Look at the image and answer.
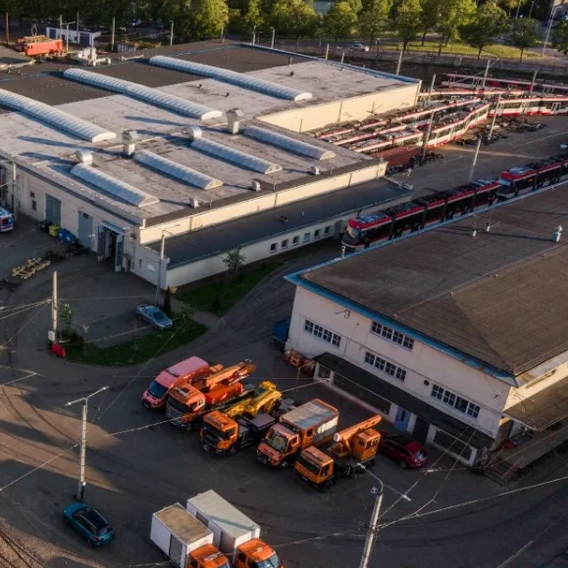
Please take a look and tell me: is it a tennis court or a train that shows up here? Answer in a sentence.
It is a train that can be seen here.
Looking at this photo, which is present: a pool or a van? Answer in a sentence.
Of the two, only a van appears.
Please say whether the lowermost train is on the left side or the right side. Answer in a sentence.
You can find the lowermost train on the right side of the picture.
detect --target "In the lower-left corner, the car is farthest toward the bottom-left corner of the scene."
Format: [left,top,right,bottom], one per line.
[63,500,115,548]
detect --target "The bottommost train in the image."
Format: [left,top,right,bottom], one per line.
[325,182,493,254]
